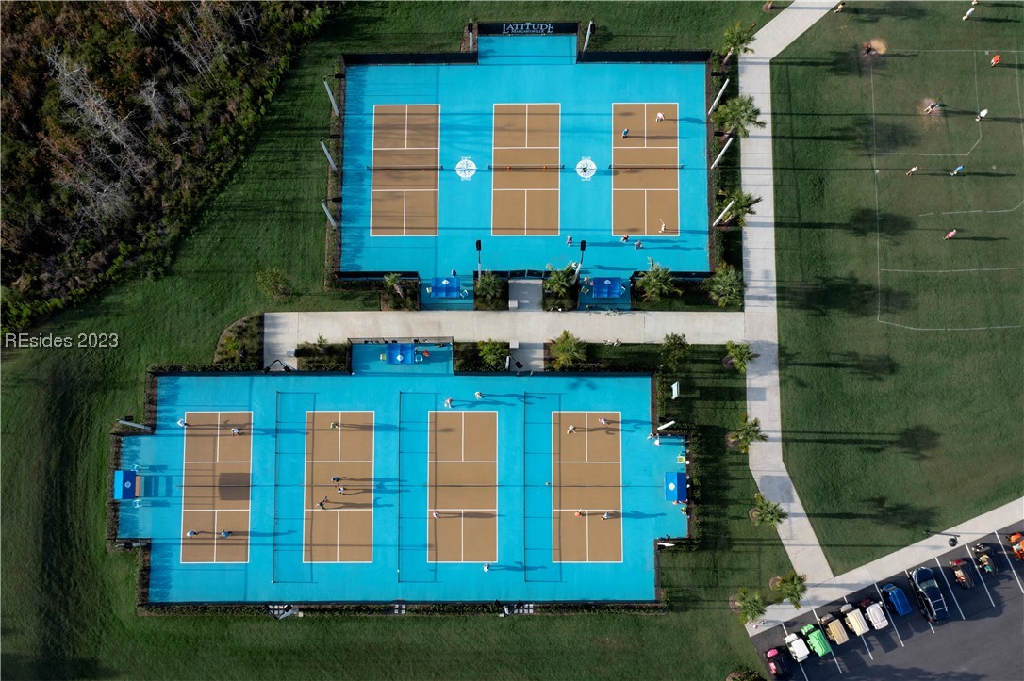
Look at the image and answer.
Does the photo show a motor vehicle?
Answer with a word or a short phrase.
Yes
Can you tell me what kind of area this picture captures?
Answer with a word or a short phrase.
sports ground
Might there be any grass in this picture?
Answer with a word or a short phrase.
Yes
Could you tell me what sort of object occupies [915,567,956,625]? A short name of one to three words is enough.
car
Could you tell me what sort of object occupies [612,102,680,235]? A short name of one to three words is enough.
sports court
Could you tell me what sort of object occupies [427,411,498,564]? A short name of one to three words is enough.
sports court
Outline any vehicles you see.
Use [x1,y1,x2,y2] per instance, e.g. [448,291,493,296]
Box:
[884,585,914,617]
[915,567,956,625]
[861,601,891,633]
[786,634,815,667]
[976,546,1009,577]
[823,617,852,650]
[803,627,833,660]
[952,559,983,590]
[843,607,873,639]
[767,649,795,681]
